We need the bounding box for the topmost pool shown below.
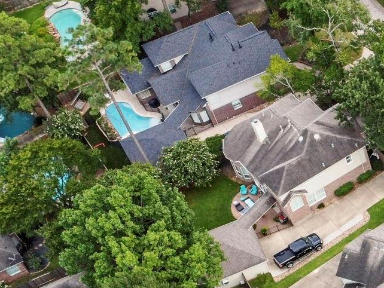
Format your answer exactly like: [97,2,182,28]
[47,6,86,61]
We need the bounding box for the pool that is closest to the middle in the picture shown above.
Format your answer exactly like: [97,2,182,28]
[102,100,165,139]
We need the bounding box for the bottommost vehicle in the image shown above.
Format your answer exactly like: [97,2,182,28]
[268,233,328,269]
